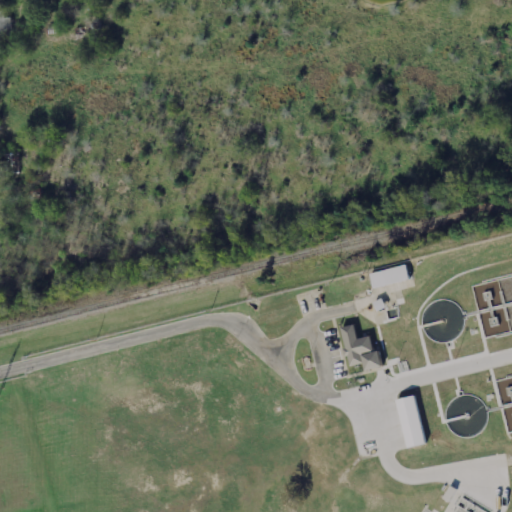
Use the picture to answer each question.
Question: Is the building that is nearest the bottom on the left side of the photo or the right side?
right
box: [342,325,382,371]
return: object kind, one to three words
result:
building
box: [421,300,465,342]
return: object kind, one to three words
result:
storage tank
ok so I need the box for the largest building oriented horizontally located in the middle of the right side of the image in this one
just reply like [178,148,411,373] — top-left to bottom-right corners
[370,265,410,288]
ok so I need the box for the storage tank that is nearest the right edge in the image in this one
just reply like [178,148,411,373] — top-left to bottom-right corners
[446,396,489,438]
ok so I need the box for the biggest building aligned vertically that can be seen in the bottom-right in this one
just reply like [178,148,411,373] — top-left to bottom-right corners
[396,396,426,449]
